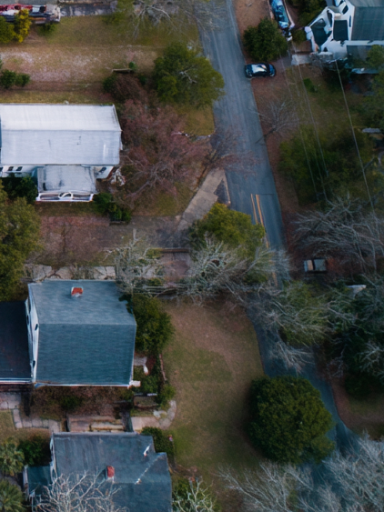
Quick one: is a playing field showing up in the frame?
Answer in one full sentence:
No, I can see no playing field in this picture.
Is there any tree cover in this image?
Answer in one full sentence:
Yes, there is tree cover in the image.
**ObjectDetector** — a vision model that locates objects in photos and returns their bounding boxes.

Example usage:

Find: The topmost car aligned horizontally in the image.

[242,65,275,79]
